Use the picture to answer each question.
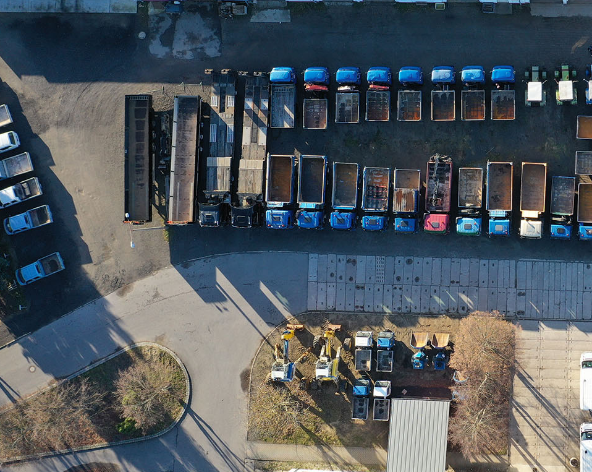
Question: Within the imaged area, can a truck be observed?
Yes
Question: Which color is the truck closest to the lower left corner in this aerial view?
blue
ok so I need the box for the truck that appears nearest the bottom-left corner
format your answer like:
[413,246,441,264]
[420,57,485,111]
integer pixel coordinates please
[16,253,68,285]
